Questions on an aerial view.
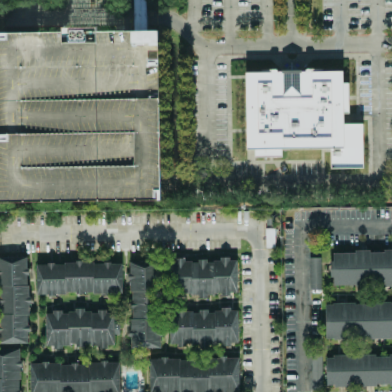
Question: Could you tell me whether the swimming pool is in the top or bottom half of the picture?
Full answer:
The swimming pool is in the bottom half of the image.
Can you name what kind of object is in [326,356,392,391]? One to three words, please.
building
